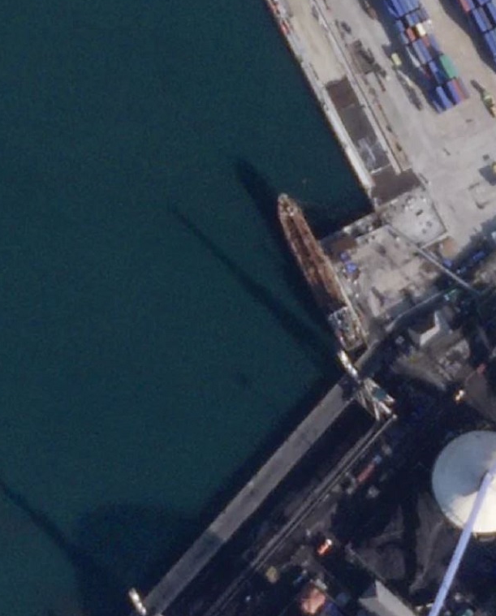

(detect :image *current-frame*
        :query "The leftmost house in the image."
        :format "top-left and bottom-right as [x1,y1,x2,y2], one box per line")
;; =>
[302,588,325,612]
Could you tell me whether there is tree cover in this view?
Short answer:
No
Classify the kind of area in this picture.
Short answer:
port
